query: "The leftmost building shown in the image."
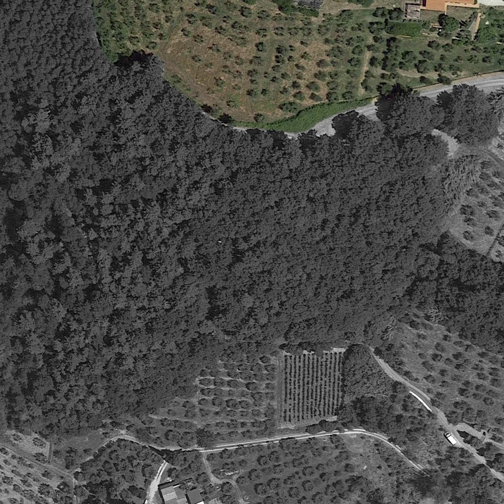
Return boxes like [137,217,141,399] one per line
[160,485,187,504]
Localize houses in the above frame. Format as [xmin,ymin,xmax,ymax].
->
[160,485,187,504]
[419,0,475,10]
[186,487,204,504]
